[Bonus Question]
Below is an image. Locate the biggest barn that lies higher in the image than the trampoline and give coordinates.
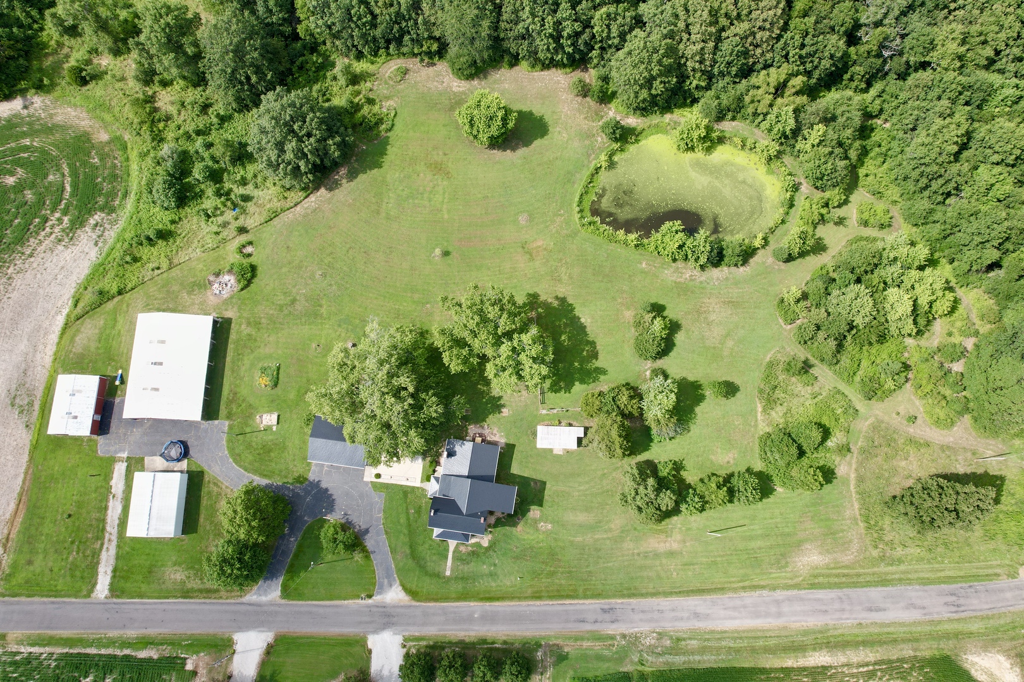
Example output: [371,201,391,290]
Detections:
[123,312,222,422]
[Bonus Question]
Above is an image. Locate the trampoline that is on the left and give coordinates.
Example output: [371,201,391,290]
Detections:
[157,440,184,462]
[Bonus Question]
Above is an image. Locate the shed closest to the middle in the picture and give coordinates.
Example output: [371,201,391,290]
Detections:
[537,426,584,449]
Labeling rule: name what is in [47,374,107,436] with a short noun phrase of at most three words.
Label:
barn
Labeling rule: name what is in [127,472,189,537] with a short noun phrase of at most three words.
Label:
shed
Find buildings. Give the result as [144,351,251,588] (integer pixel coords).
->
[308,415,375,469]
[127,472,189,537]
[123,312,222,422]
[537,426,584,449]
[47,374,107,436]
[428,435,517,543]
